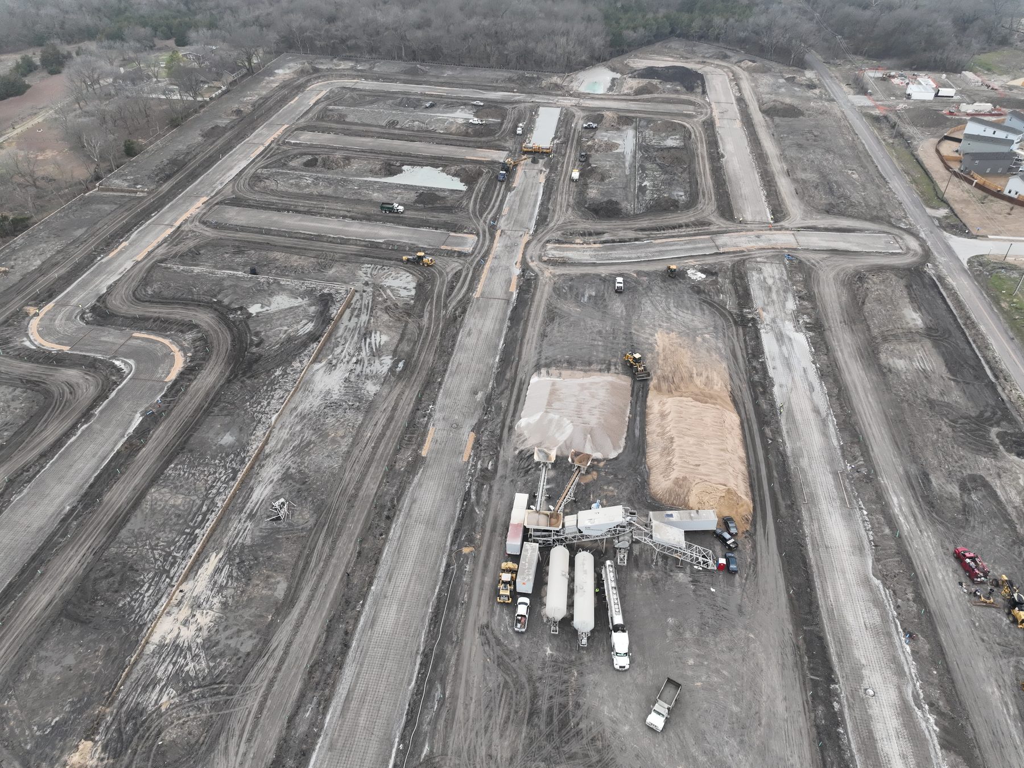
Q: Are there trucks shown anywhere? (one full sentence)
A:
Yes, a truck appears in the view.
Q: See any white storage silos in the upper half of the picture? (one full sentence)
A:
No, there's no white storage silo to be seen in the upper half of the picture.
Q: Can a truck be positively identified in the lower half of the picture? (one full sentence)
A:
Yes, a truck is visible in the lower half of the picture.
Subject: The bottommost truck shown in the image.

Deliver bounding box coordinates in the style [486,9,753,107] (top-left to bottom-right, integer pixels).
[643,671,685,735]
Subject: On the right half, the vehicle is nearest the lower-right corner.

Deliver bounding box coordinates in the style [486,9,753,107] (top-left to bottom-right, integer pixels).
[991,572,1024,628]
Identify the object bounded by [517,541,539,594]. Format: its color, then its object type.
white trailer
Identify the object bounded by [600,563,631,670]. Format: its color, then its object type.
white truck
